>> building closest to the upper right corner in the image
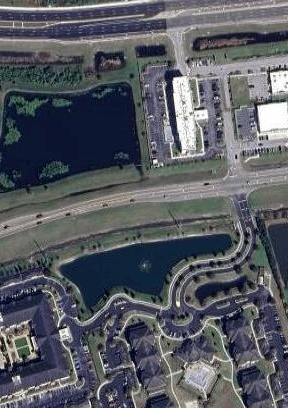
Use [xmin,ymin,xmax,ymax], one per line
[270,70,288,96]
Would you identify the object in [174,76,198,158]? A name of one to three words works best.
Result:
building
